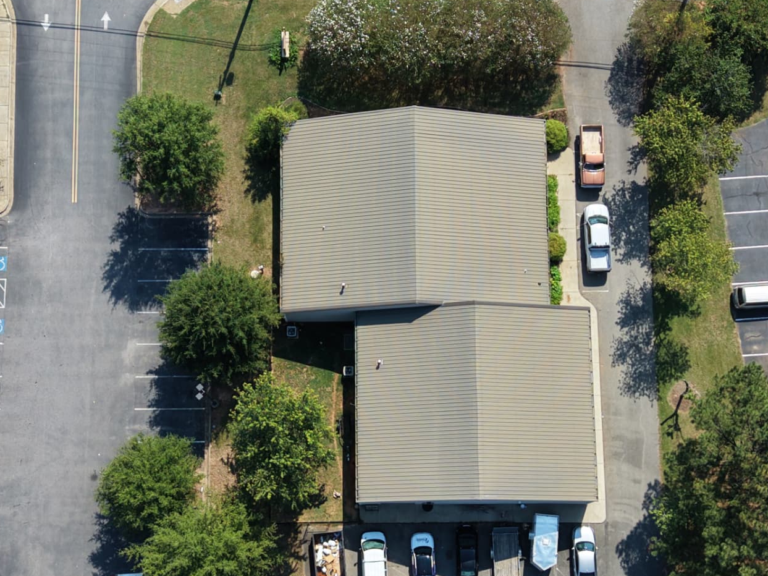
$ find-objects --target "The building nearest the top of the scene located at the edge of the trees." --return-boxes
[277,108,553,318]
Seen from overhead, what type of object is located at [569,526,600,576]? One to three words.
car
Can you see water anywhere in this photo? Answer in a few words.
No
